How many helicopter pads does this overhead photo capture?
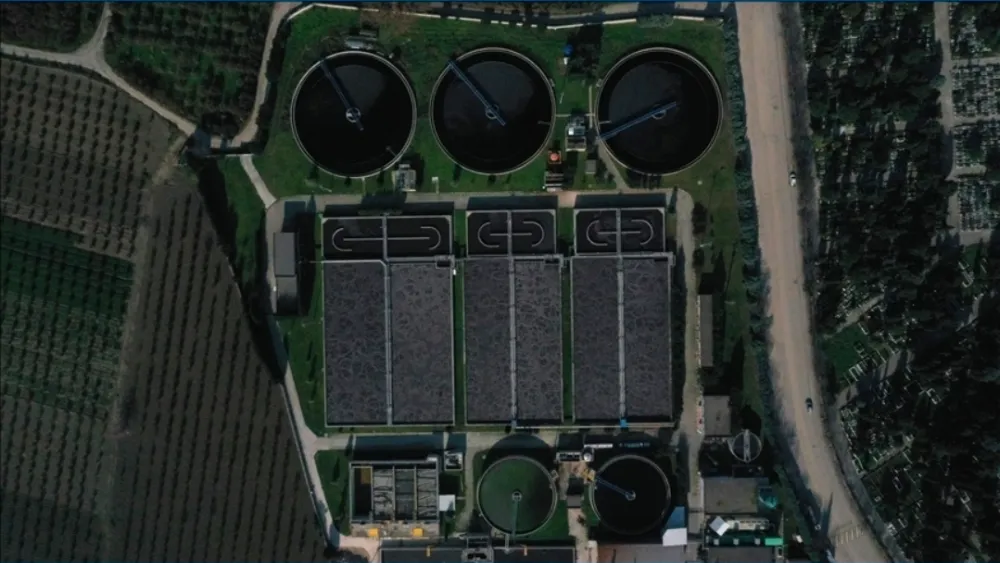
0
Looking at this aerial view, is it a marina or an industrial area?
industrial area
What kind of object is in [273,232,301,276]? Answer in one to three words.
building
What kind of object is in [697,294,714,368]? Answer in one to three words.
shed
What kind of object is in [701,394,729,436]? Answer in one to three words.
building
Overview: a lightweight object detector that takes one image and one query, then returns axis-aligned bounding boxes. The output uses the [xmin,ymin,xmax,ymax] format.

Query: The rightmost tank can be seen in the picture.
[726,429,762,462]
